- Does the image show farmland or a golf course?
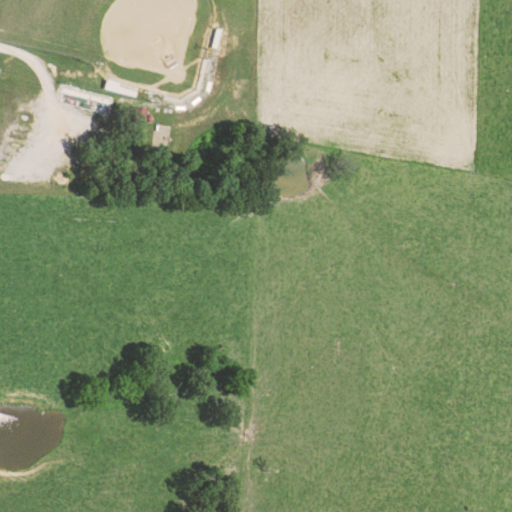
farmland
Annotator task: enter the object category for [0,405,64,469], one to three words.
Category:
pond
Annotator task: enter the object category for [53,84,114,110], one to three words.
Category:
building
